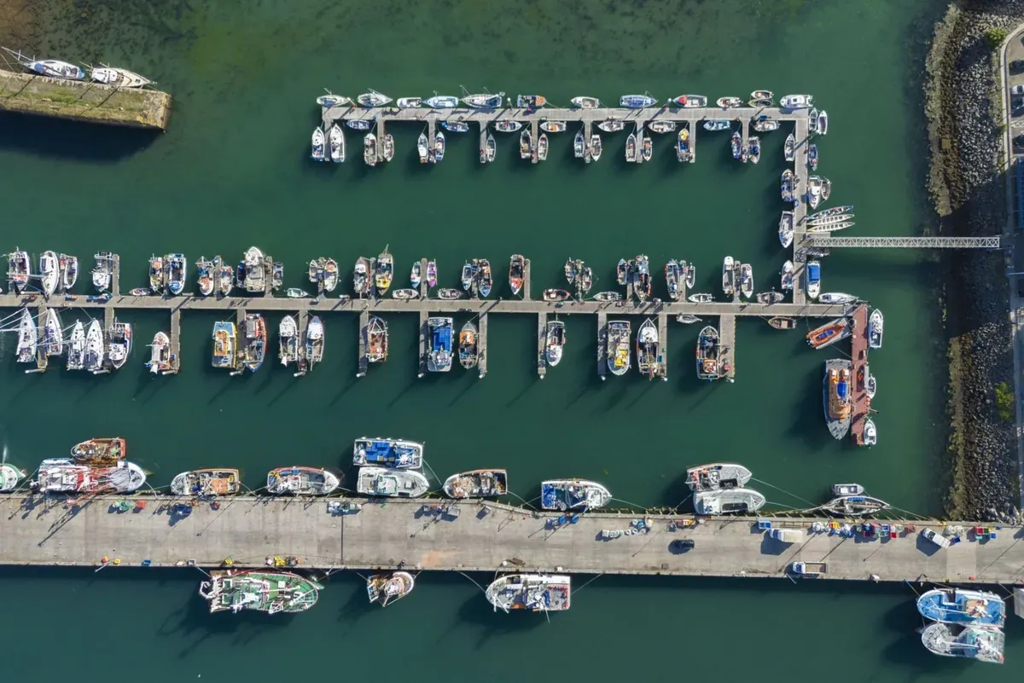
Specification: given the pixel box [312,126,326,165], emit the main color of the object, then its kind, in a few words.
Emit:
white boat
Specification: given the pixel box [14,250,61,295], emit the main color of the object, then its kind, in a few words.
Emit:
white boat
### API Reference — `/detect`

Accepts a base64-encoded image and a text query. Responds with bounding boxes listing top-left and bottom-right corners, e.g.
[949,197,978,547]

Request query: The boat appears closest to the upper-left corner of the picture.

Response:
[0,37,90,79]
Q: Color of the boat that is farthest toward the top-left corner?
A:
white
